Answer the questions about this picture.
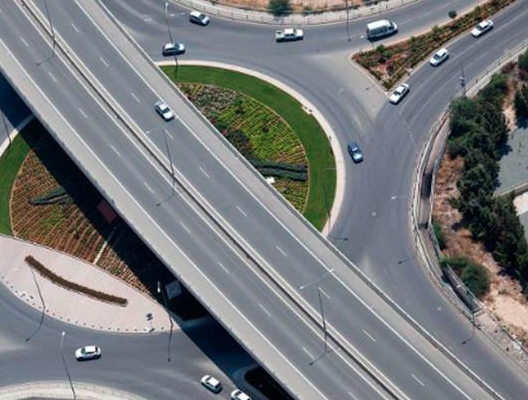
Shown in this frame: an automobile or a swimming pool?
automobile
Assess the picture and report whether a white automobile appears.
Yes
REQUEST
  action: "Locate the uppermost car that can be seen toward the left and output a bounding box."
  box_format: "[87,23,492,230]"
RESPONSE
[189,11,210,25]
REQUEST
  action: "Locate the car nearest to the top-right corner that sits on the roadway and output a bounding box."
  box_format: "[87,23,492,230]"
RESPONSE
[470,21,494,37]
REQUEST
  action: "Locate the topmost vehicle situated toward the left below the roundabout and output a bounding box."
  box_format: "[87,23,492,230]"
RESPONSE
[76,346,100,360]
